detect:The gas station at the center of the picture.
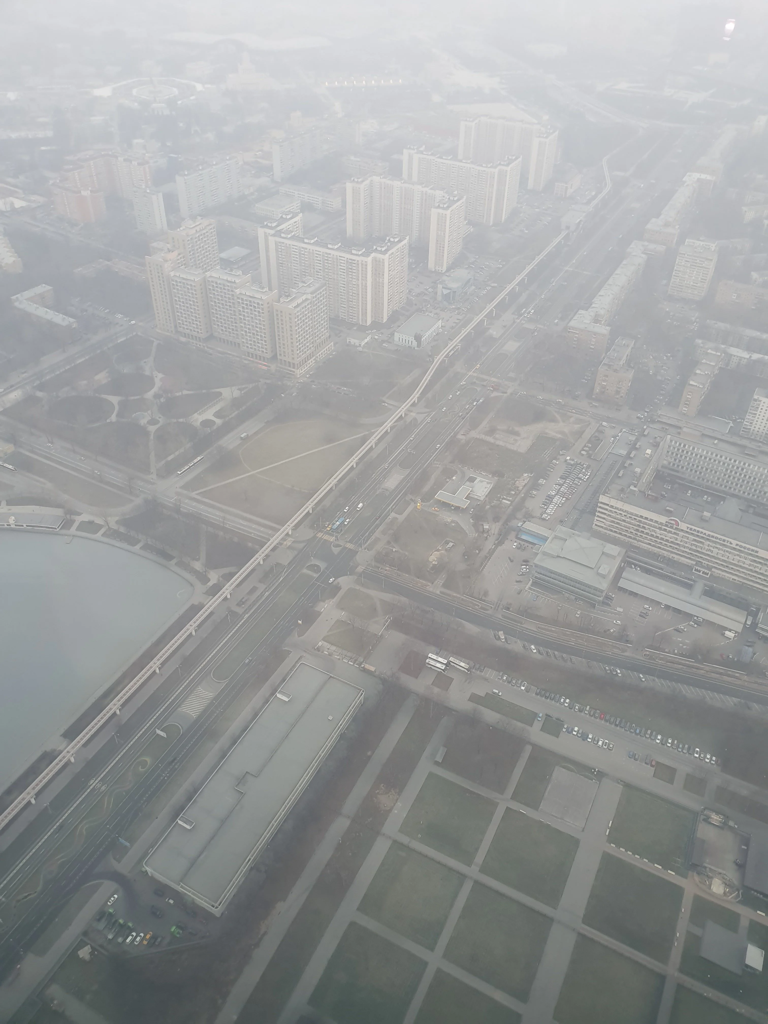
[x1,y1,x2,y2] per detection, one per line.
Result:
[434,475,493,510]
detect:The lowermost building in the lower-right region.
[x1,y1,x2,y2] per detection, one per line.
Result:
[744,944,764,973]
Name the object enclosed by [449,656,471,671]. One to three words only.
vehicle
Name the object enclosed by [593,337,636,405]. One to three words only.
house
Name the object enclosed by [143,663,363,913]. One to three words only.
building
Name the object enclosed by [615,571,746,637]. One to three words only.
shed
